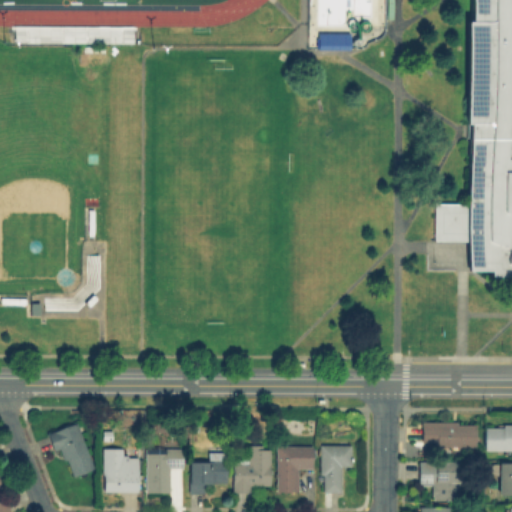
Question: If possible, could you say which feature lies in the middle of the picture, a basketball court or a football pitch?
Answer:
football pitch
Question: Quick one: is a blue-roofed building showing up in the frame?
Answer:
Yes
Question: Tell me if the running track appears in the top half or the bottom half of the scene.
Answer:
top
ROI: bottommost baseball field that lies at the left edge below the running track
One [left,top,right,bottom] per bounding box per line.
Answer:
[0,178,108,323]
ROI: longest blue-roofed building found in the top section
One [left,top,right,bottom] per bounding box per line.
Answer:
[317,32,352,50]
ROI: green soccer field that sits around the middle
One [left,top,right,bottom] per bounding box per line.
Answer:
[146,51,290,352]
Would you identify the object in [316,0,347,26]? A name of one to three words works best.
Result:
swimming pool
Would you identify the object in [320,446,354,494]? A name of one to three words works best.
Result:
house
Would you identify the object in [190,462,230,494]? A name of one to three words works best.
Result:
house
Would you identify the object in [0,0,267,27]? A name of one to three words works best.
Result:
running track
